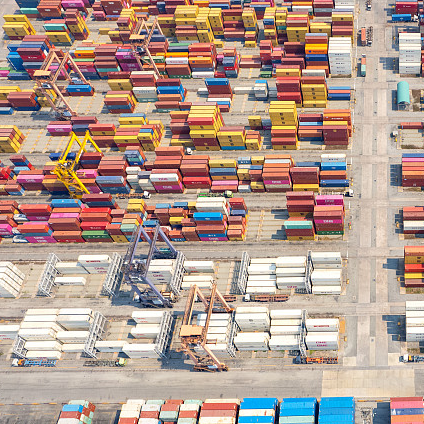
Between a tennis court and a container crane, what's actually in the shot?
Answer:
container crane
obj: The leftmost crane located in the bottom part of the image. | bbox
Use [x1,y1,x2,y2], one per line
[127,229,182,311]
